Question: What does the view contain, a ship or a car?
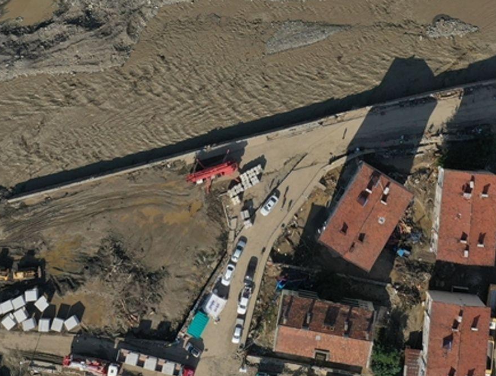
car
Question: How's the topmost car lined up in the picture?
at an angle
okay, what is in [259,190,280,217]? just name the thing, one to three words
car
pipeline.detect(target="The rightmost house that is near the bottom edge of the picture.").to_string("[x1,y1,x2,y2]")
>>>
[420,280,491,376]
